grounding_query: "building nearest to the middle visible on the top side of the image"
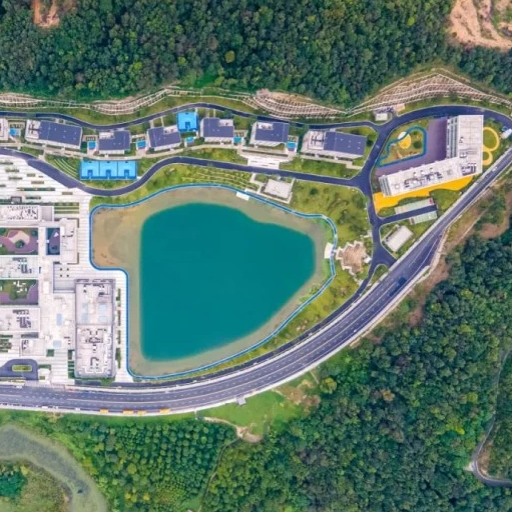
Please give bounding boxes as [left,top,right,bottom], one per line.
[263,181,292,198]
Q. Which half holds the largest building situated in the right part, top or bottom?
top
